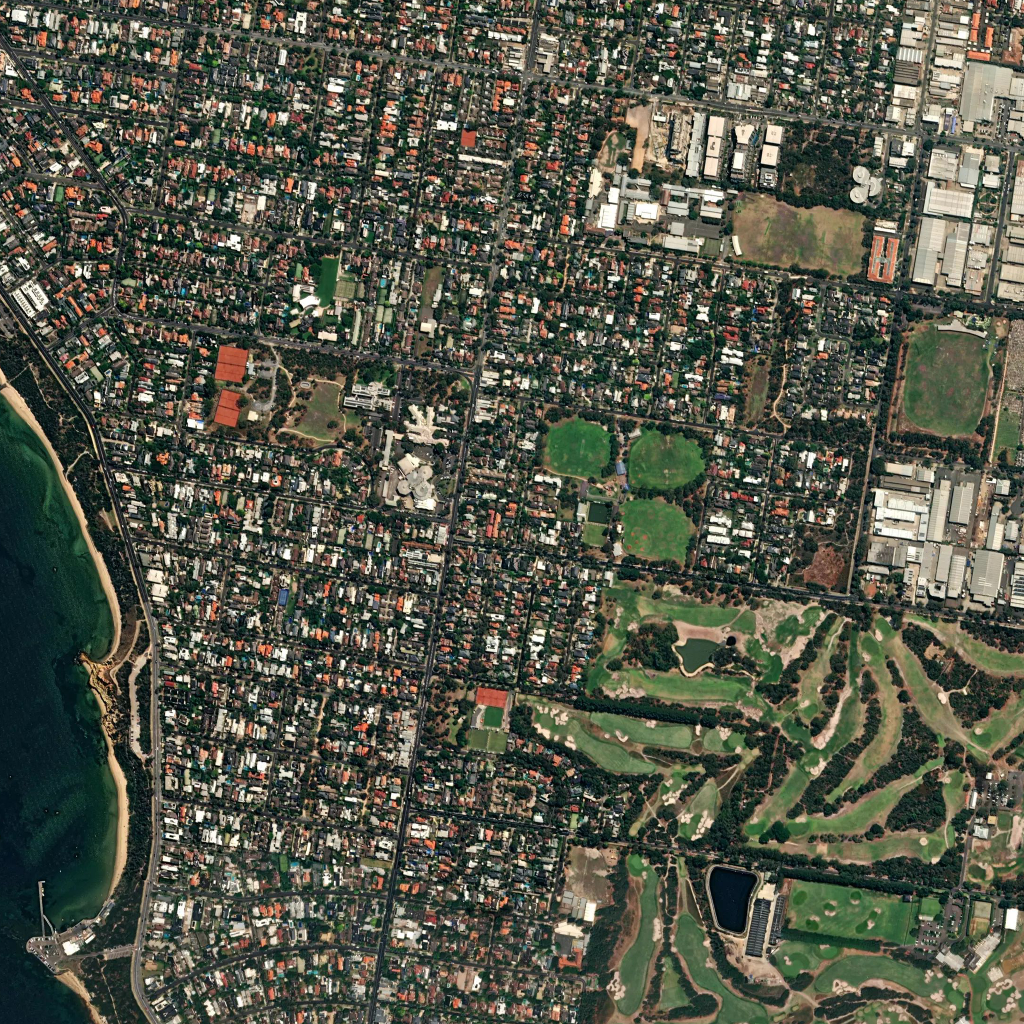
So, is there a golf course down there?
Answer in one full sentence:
Yes, a golf course appears in the view.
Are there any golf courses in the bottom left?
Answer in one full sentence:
No, in the bottom left there is no golf course.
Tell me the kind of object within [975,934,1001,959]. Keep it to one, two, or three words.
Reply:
building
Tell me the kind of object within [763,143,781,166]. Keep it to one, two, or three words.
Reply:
building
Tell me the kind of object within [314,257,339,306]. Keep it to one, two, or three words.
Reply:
sports field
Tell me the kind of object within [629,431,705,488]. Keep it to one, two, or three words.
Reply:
sports field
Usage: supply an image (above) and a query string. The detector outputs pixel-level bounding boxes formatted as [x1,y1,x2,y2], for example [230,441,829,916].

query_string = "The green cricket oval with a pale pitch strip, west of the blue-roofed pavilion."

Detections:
[546,418,611,476]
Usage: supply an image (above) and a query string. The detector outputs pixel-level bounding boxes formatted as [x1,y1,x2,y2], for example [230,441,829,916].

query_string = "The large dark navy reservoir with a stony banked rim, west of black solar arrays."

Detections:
[706,863,760,936]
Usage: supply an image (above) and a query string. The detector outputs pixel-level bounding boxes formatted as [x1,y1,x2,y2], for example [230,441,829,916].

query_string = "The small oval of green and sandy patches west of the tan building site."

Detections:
[599,132,626,166]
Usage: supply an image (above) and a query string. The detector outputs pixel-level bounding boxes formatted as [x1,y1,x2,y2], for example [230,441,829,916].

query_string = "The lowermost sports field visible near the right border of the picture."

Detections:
[904,330,989,435]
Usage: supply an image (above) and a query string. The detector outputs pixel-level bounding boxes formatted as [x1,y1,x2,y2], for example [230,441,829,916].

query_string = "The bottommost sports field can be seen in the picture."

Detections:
[564,847,614,902]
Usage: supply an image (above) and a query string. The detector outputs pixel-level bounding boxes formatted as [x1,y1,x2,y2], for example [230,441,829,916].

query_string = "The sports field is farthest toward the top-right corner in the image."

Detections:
[735,193,865,275]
